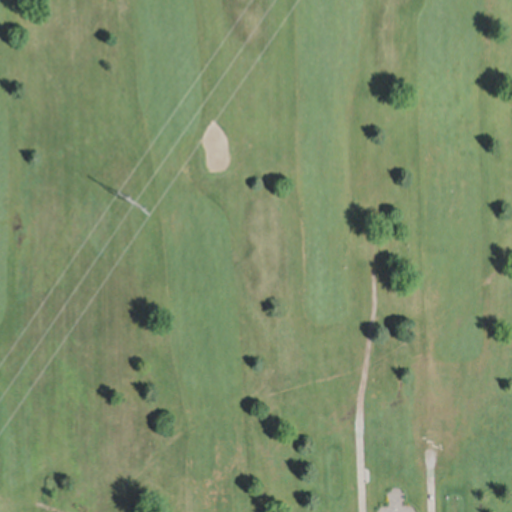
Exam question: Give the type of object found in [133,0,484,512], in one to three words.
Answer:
golf course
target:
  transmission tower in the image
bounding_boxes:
[118,192,150,216]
